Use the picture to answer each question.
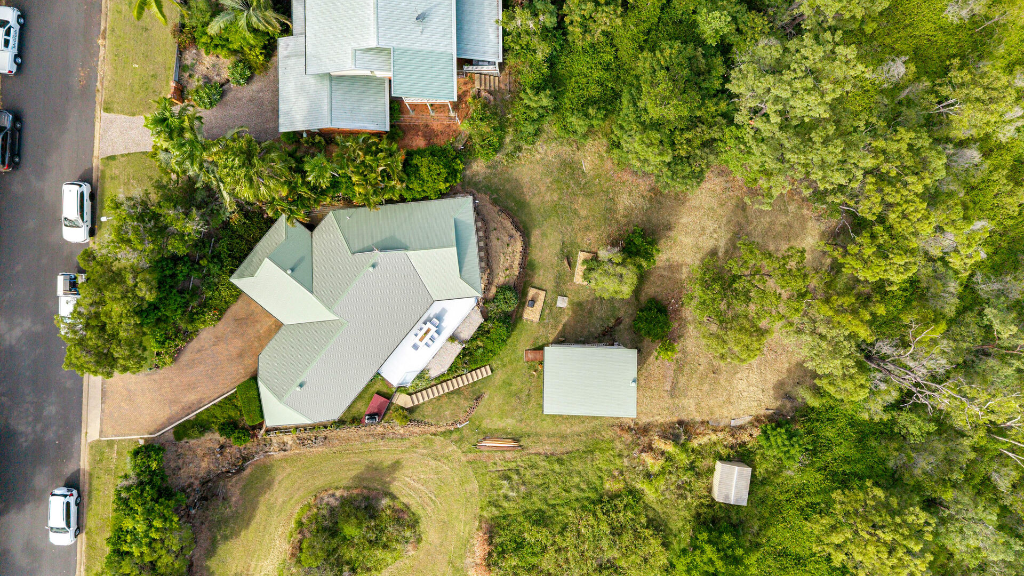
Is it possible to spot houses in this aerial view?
Yes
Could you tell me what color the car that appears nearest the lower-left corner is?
white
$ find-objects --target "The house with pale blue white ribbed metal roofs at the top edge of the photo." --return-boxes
[278,0,503,136]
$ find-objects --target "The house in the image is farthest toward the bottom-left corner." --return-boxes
[229,195,483,428]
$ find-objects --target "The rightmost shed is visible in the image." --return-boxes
[712,457,751,506]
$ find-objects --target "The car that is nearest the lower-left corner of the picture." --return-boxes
[46,486,83,546]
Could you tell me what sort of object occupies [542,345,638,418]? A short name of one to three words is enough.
shed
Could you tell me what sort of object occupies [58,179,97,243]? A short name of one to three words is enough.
car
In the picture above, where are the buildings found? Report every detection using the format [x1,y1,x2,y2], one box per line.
[542,345,638,418]
[278,0,503,136]
[229,195,483,428]
[712,457,751,506]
